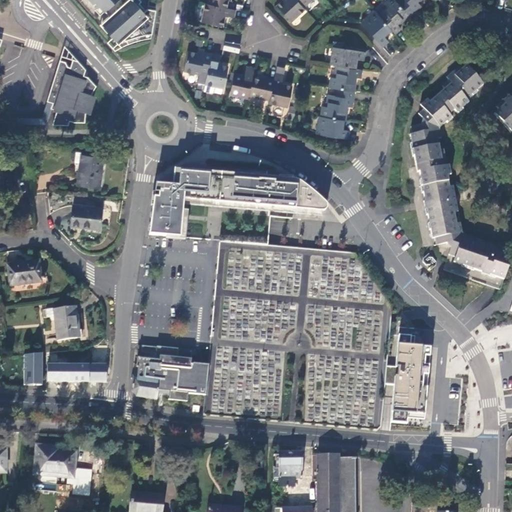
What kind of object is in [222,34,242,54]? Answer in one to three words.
building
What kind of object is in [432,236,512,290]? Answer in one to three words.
house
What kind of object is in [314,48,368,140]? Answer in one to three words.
house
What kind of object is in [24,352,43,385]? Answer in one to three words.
barn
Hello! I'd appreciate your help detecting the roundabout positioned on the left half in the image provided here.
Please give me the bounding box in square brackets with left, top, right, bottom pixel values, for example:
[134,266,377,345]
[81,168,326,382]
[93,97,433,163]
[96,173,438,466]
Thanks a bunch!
[146,110,180,144]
